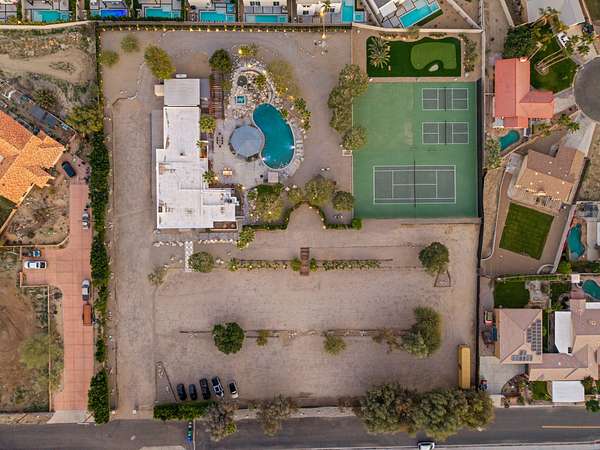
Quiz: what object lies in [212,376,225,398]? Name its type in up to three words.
vehicle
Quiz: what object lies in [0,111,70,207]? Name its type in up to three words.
house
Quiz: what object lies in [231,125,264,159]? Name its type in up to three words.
gazebo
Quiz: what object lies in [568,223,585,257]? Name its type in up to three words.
swimming pool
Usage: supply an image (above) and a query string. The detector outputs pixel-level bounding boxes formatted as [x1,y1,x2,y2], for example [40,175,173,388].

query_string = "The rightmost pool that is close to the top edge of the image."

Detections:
[399,2,439,28]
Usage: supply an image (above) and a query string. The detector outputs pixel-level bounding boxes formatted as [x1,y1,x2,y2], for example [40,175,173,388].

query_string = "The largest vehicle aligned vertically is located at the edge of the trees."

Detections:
[457,344,471,388]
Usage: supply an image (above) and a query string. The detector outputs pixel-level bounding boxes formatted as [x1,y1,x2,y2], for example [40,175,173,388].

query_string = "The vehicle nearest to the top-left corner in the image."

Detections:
[63,161,76,178]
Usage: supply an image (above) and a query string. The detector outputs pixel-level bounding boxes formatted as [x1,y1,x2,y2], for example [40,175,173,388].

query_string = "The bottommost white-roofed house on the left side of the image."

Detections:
[151,107,238,230]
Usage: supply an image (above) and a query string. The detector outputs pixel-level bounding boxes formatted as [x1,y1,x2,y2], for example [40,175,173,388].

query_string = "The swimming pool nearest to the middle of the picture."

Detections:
[252,103,296,169]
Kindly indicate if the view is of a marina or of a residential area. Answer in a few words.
residential area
